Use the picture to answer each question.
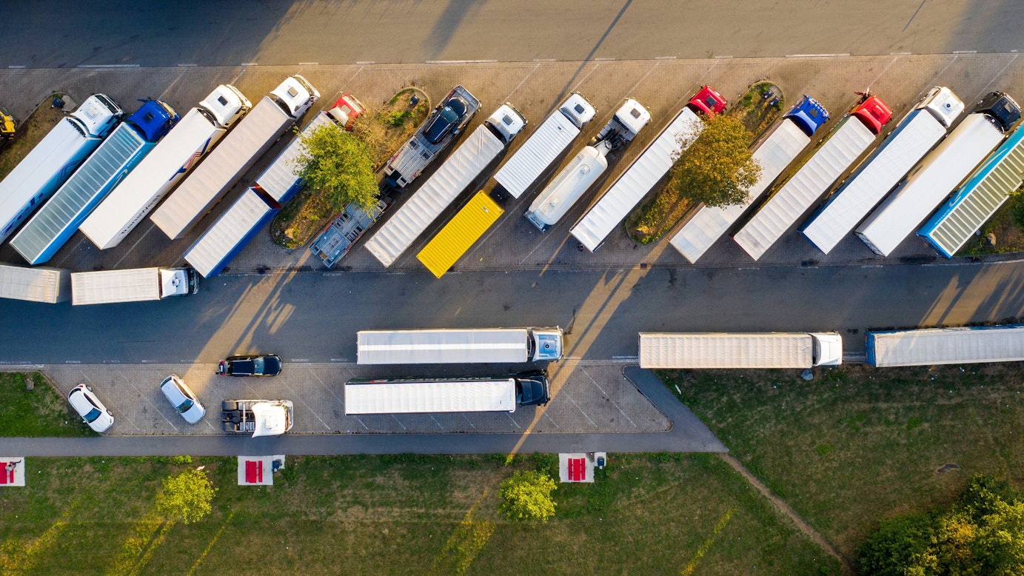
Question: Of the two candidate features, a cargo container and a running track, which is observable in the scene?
cargo container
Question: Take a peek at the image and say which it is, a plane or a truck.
truck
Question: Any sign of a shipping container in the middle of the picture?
Yes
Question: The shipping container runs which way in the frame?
on a diagonal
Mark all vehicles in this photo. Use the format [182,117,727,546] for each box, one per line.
[665,93,831,263]
[69,382,114,434]
[862,323,1024,367]
[183,89,371,279]
[222,402,294,441]
[0,93,127,244]
[9,90,184,264]
[79,80,253,250]
[851,82,1024,255]
[357,325,567,364]
[568,81,730,253]
[364,99,531,267]
[0,263,204,305]
[494,88,600,199]
[636,330,847,369]
[150,70,321,240]
[523,97,652,234]
[345,371,551,415]
[161,373,204,423]
[914,118,1024,257]
[794,82,966,254]
[214,352,282,379]
[727,86,896,260]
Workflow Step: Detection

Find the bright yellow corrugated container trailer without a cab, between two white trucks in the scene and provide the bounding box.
[416,188,506,278]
